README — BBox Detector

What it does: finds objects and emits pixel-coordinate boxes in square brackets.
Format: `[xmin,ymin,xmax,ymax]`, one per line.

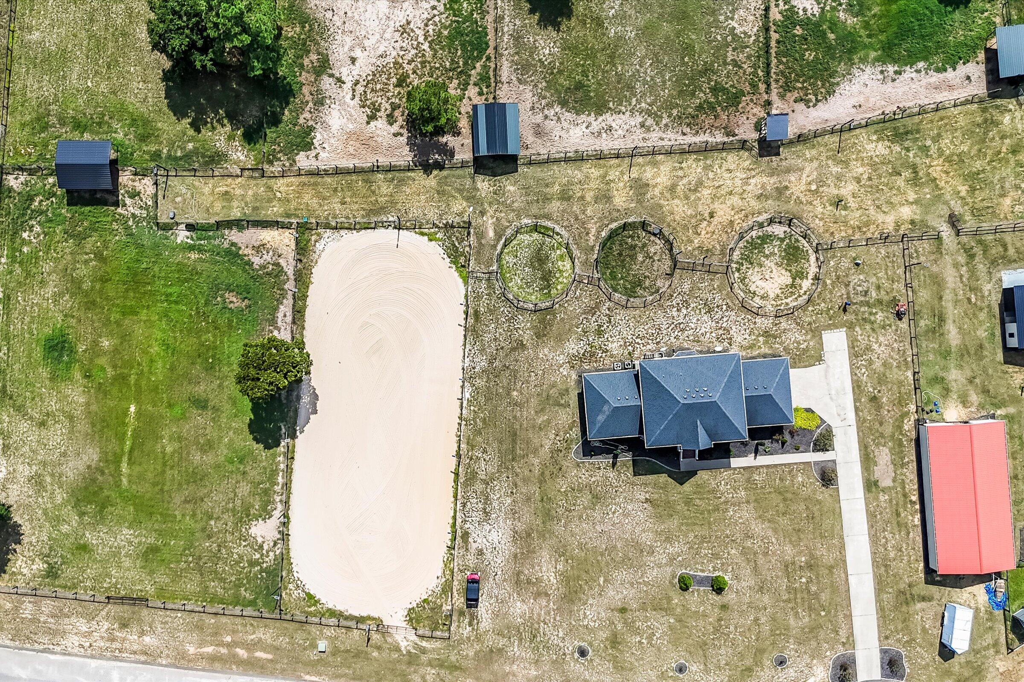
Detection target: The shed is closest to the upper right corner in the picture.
[985,24,1024,82]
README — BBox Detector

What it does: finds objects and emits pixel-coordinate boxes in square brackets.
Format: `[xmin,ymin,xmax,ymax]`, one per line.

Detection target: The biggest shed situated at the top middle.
[472,102,520,157]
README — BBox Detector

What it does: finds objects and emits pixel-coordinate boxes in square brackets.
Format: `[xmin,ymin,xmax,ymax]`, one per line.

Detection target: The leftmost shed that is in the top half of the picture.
[55,140,119,190]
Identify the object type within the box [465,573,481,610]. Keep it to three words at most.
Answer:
car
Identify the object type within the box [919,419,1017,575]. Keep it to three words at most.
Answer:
barn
